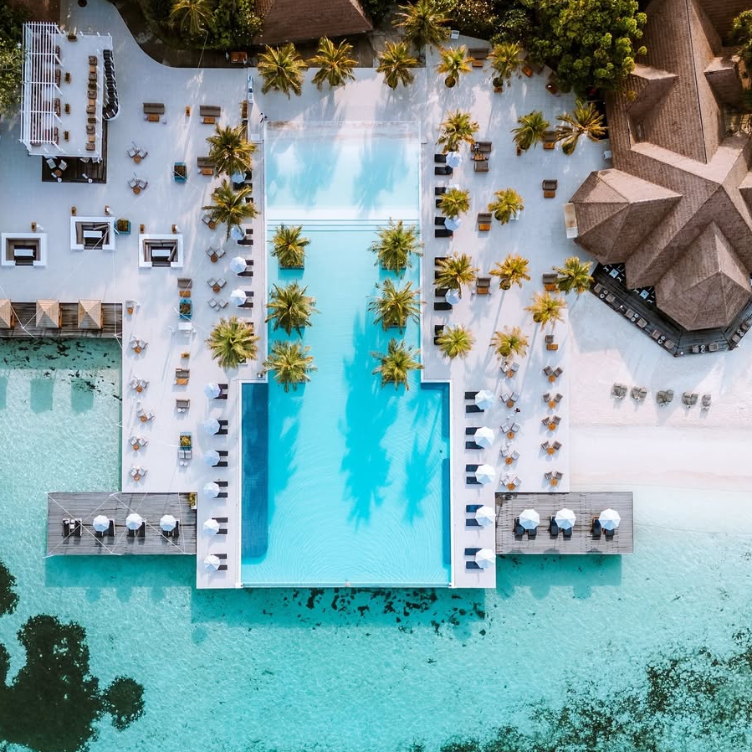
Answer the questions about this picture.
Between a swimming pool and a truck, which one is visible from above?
swimming pool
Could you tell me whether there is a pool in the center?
Yes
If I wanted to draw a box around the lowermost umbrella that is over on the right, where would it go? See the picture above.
[475,548,496,569]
